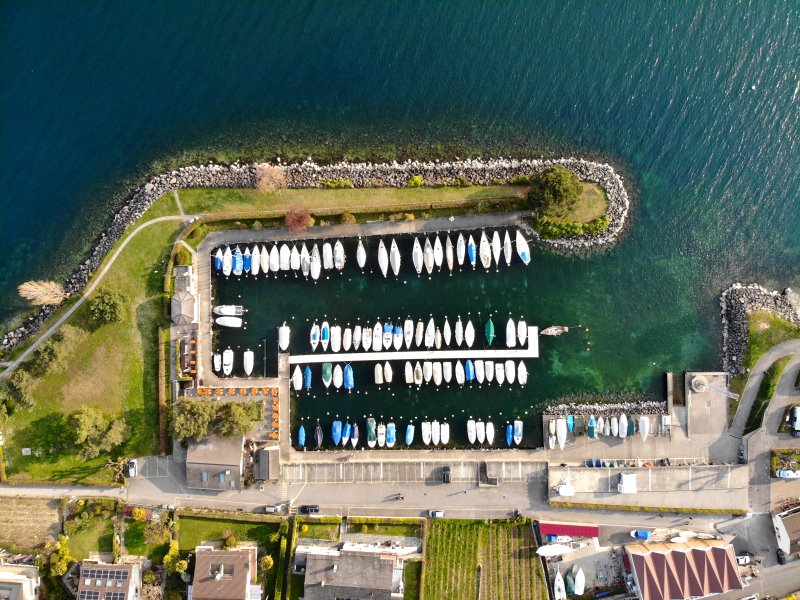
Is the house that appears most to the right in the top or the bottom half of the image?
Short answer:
bottom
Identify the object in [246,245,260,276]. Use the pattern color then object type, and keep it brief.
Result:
white boat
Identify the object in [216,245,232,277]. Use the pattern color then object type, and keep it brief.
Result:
white boat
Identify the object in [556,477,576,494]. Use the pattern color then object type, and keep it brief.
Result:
white vehicle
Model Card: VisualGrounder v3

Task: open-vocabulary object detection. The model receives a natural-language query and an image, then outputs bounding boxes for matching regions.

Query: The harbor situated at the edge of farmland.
[197,211,738,465]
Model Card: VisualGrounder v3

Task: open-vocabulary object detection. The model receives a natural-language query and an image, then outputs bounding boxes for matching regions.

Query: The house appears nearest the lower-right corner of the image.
[772,504,800,555]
